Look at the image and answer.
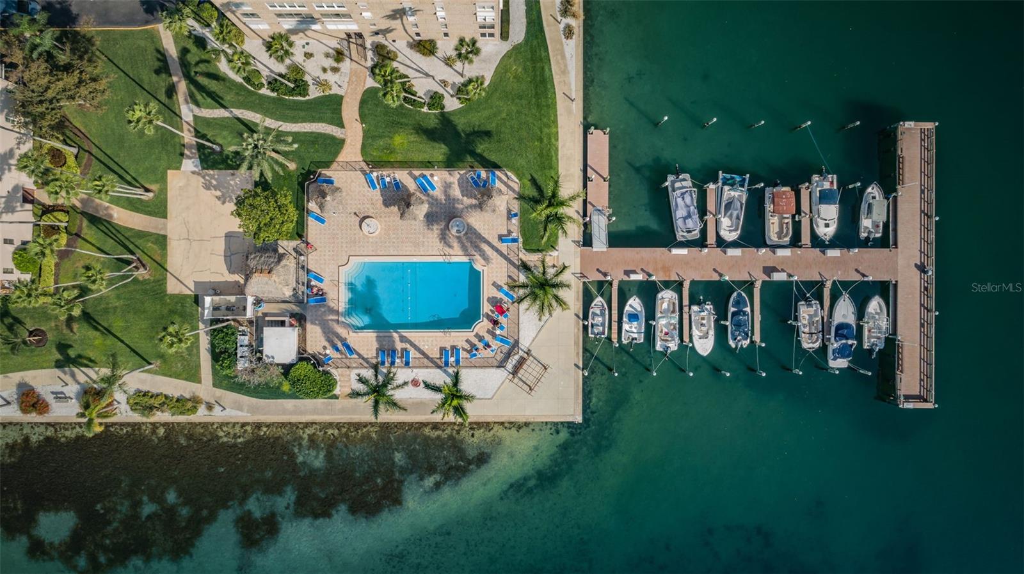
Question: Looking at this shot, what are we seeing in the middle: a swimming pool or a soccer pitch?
swimming pool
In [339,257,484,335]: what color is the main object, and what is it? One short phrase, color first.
blue swimming pool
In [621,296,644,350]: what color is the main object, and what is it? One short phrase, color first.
white boat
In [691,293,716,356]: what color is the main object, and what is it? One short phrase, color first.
white boat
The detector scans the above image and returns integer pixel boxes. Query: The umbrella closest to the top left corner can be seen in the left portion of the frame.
[311,182,345,218]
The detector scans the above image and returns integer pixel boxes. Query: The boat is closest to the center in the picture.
[589,297,607,343]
